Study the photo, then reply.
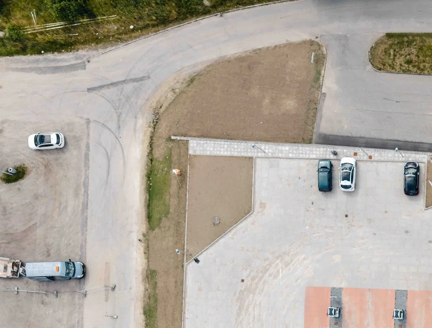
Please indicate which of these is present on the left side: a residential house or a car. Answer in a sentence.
The feature located on the left side is a car.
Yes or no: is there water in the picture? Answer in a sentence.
No, no water is visible.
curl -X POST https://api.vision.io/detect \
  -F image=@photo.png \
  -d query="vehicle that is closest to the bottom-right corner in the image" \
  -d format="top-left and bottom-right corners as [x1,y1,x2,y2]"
[402,161,421,196]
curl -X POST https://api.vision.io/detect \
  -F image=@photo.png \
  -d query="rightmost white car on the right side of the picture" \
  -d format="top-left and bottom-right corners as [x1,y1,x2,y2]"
[337,156,356,192]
